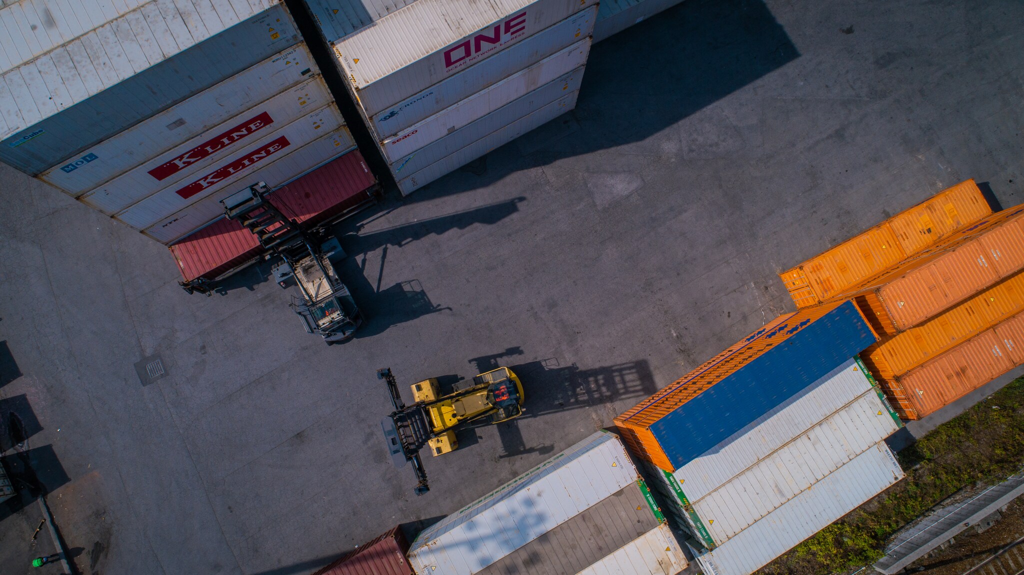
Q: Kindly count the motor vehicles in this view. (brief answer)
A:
2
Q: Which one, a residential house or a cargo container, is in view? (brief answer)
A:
cargo container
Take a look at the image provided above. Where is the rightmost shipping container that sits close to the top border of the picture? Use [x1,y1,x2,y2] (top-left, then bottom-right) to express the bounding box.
[588,0,684,49]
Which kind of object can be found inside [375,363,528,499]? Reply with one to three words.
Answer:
truck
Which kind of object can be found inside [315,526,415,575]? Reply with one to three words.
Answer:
shipping container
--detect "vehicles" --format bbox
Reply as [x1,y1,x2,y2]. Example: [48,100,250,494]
[192,179,390,347]
[375,363,528,499]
